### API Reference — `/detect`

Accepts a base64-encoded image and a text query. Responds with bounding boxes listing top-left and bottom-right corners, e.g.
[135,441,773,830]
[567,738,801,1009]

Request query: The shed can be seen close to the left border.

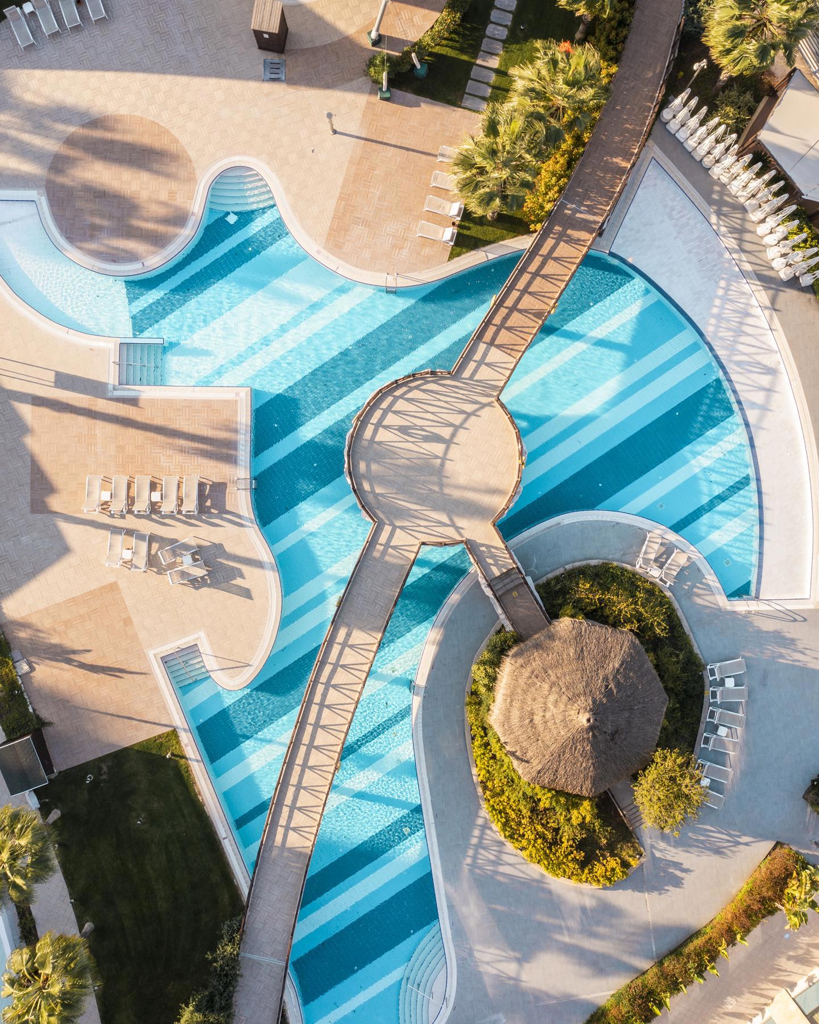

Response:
[0,730,55,796]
